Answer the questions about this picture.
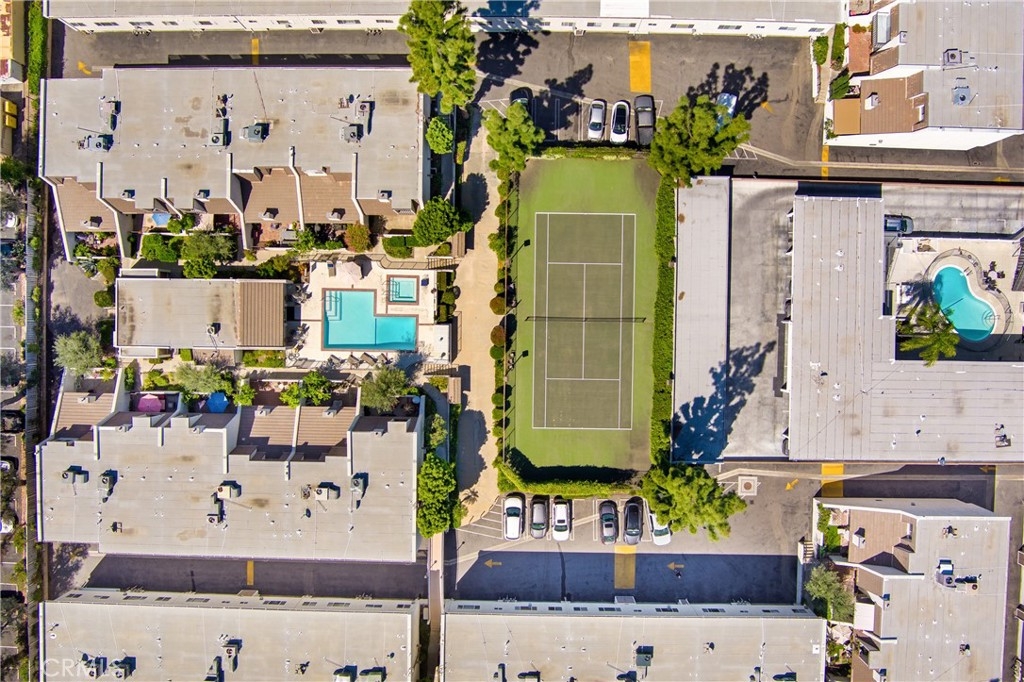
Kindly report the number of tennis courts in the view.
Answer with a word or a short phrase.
1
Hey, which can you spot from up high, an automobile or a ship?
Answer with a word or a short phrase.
automobile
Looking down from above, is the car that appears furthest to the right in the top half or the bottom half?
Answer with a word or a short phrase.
top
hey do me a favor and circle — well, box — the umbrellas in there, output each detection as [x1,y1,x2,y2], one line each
[152,215,171,227]
[208,391,231,411]
[142,390,163,411]
[339,255,366,283]
[828,620,847,640]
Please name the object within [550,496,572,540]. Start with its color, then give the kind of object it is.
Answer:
white car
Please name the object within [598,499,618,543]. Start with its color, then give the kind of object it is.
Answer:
gray car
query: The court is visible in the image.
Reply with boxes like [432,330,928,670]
[507,157,660,486]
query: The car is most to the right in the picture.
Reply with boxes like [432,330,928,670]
[884,212,915,234]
